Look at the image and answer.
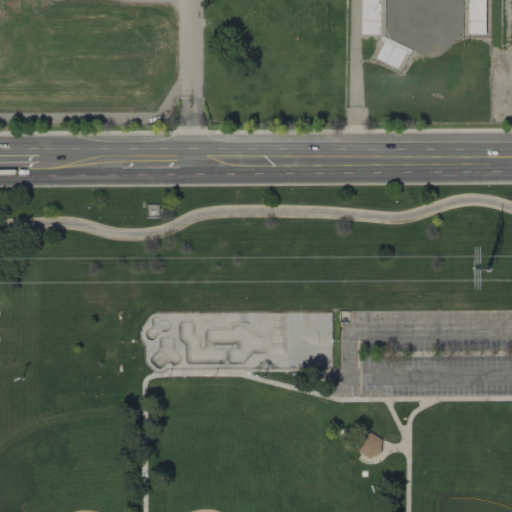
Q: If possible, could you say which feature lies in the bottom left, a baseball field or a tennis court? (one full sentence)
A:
There is a baseball field in the bottom left.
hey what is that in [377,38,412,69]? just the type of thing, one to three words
shed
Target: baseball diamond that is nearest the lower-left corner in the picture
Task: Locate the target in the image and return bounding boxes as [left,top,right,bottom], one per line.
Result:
[0,408,141,512]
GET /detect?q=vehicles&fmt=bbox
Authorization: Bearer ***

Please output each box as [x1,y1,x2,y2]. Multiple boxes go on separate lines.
[148,115,161,123]
[488,150,500,156]
[0,169,31,176]
[56,155,66,160]
[386,144,396,149]
[309,146,320,151]
[0,143,10,148]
